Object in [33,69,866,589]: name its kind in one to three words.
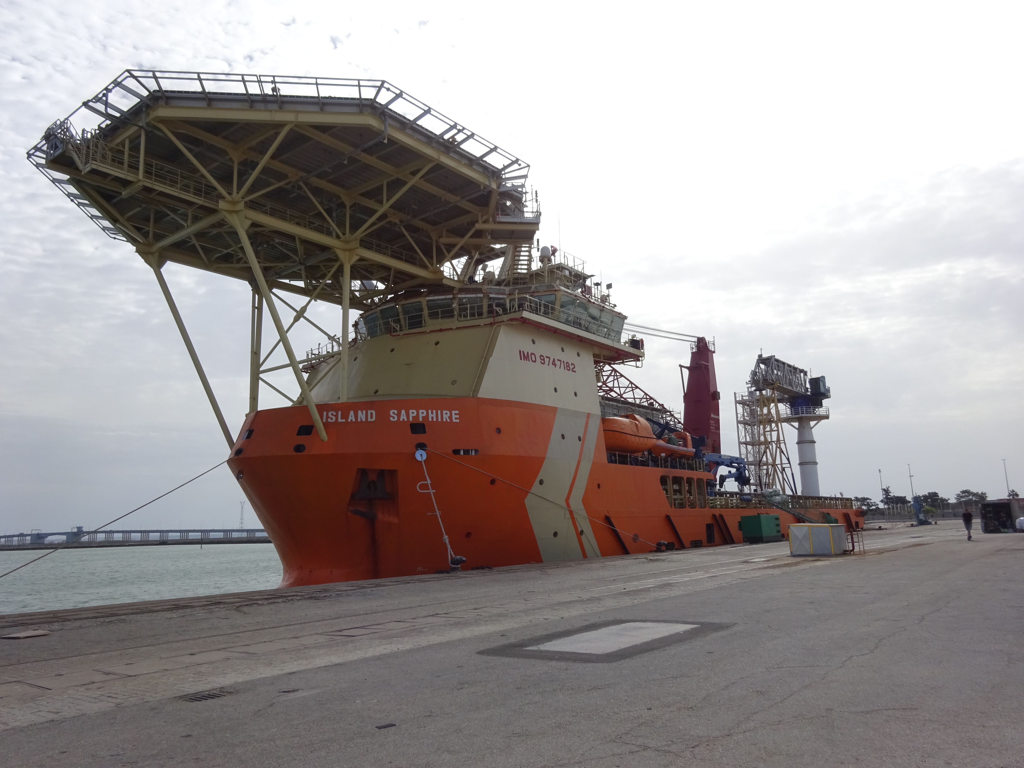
ship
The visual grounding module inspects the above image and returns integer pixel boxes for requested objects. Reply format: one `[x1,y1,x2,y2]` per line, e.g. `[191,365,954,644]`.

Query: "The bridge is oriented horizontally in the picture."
[0,521,263,543]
